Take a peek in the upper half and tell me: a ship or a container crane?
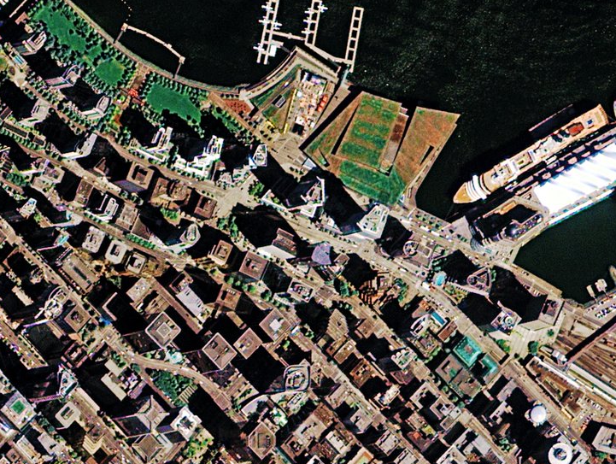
ship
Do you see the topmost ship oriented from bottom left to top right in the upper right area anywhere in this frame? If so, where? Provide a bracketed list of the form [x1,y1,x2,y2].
[528,104,575,137]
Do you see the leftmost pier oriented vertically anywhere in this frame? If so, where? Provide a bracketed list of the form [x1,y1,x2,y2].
[256,0,278,63]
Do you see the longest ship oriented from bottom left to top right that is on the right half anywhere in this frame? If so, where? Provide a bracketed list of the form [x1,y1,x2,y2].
[451,104,609,203]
